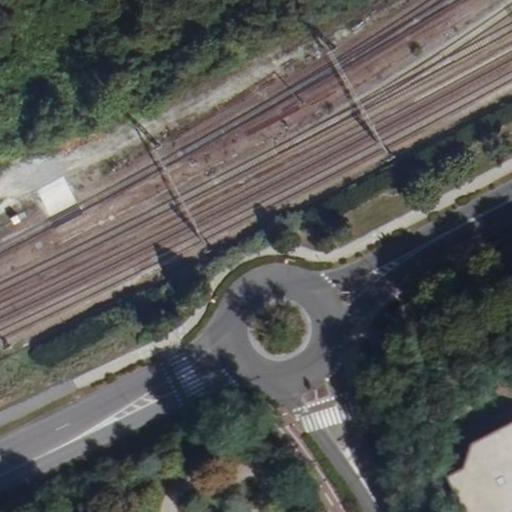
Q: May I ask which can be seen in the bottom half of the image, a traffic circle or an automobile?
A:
traffic circle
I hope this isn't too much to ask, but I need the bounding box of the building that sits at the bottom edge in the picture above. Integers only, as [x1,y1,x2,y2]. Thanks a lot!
[446,419,512,512]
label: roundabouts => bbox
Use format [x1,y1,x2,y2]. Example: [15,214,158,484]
[186,265,372,408]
